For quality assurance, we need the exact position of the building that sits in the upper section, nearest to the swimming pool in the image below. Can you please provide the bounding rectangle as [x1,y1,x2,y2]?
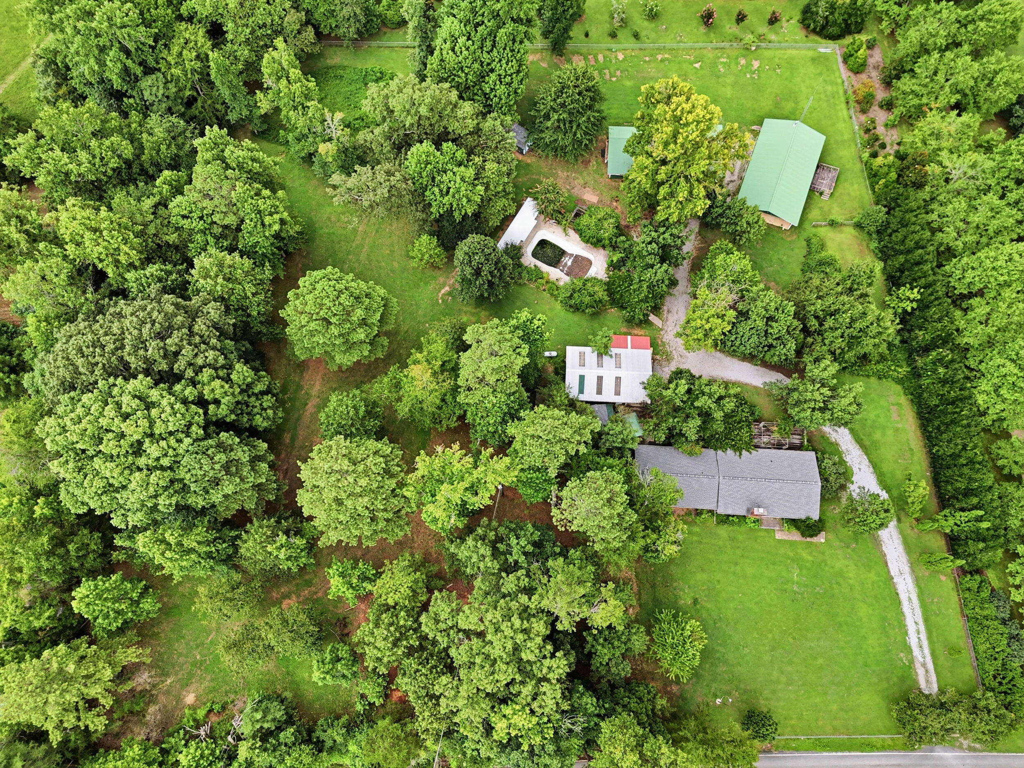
[497,197,538,256]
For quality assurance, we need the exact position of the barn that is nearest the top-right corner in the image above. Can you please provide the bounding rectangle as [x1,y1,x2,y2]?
[735,117,825,234]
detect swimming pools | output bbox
[527,229,597,280]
